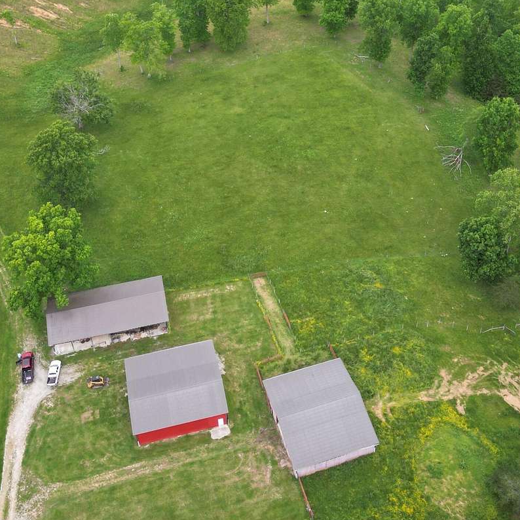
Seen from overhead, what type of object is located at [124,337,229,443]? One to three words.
barn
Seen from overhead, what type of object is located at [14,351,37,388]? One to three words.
truck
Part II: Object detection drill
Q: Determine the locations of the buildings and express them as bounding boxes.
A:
[261,357,380,477]
[45,273,169,356]
[124,337,229,443]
